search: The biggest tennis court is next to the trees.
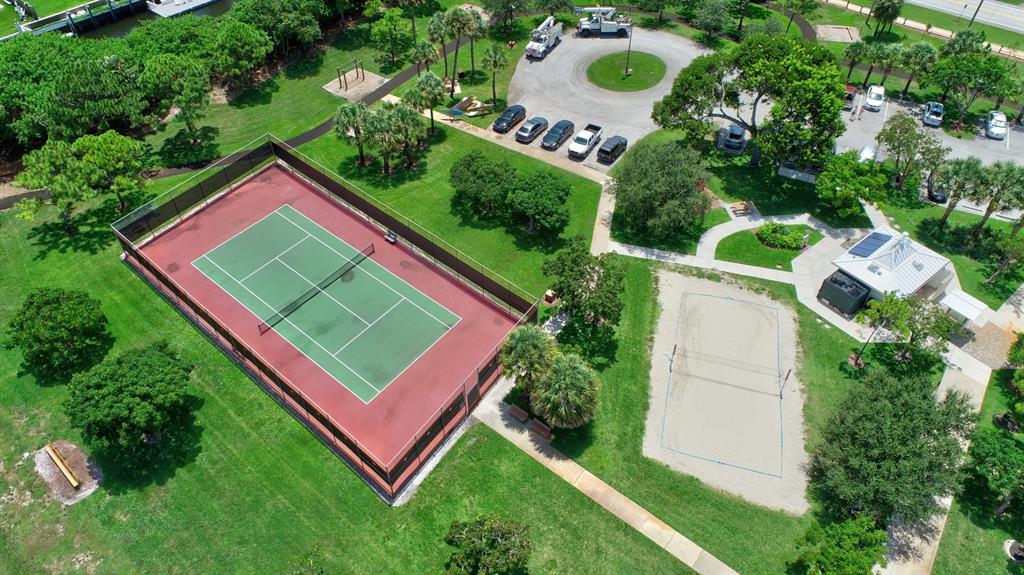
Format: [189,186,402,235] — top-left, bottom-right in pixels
[122,157,541,501]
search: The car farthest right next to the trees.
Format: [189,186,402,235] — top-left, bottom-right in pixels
[985,111,1009,140]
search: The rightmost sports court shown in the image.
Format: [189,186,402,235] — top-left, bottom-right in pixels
[643,269,812,514]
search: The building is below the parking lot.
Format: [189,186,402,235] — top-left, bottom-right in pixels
[832,225,950,308]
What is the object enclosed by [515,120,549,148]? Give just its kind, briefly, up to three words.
car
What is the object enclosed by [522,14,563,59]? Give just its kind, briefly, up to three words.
truck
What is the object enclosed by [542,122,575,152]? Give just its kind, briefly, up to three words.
car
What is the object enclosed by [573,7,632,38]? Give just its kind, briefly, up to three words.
truck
